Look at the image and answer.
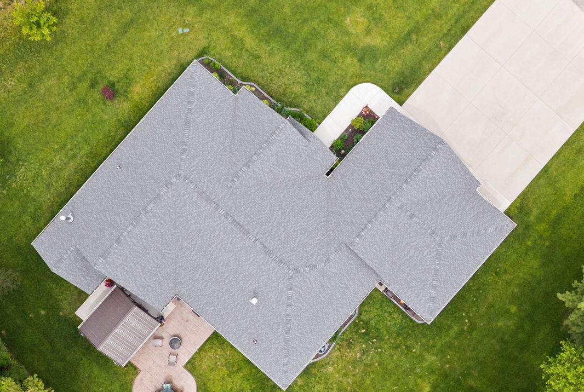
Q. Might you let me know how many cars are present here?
0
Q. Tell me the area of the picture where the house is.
center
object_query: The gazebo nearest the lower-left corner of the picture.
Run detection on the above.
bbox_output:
[78,286,163,367]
